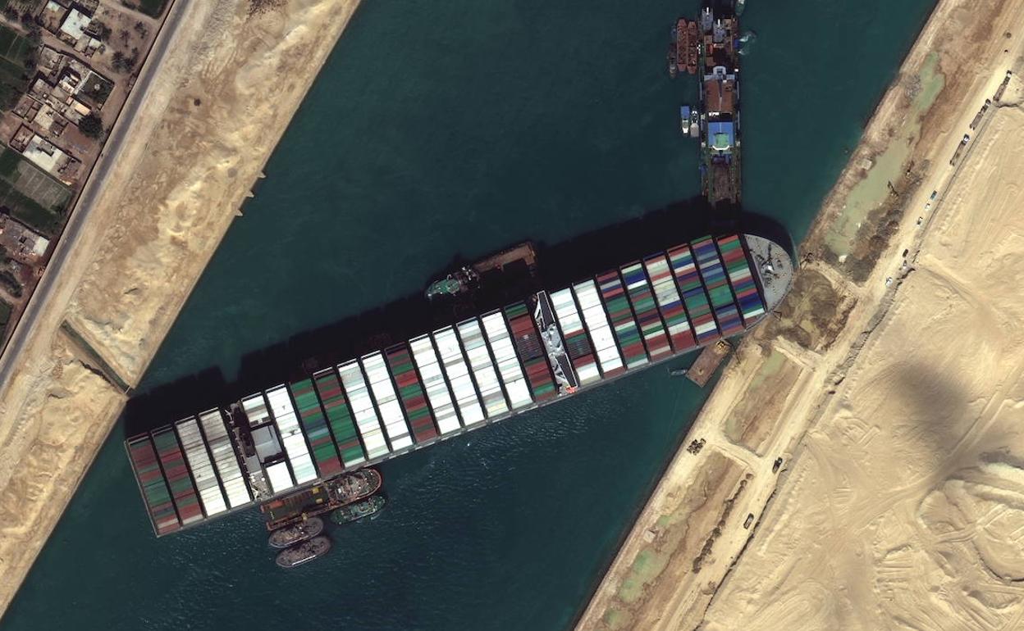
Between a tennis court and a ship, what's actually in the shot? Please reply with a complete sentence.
The one in the frame is a ship.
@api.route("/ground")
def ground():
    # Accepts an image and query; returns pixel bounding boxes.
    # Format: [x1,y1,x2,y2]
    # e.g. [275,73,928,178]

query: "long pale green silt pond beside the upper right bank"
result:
[826,53,947,254]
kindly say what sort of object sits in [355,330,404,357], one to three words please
boat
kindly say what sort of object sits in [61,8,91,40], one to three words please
house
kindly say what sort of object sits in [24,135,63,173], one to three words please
house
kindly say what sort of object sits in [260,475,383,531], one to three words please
ship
